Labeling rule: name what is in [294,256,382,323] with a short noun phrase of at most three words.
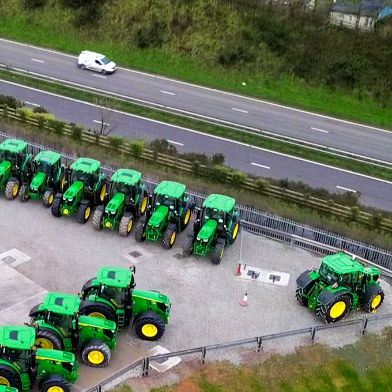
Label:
work vehicle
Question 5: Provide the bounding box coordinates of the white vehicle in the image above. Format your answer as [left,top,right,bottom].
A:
[77,46,116,71]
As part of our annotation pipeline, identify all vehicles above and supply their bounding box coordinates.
[27,300,121,369]
[0,329,80,392]
[77,46,116,71]
[136,182,190,251]
[78,273,167,340]
[92,172,148,239]
[294,256,382,323]
[0,141,33,202]
[18,146,68,208]
[183,196,240,267]
[50,160,105,225]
